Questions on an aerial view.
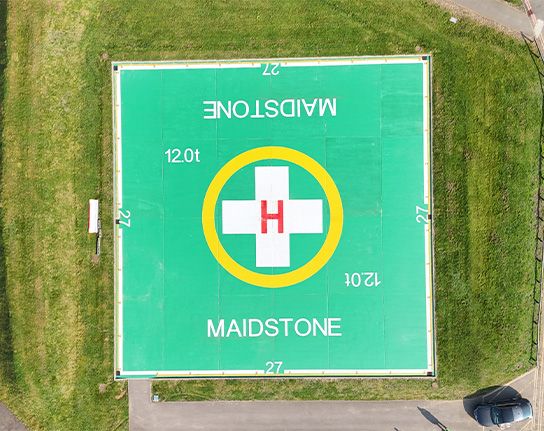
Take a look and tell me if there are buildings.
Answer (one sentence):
No, I can't see a single building in this photo.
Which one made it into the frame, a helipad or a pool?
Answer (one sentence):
I can see a helipad in this picture.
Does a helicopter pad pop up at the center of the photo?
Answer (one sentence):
Yes, a helicopter pad shows up at the center of the photo.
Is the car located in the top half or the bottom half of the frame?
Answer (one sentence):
The car sits in the bottom half of the picture.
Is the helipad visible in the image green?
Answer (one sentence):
Yes, the helipad is indeed green.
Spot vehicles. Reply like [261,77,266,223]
[471,398,533,430]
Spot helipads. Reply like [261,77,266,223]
[112,54,438,380]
